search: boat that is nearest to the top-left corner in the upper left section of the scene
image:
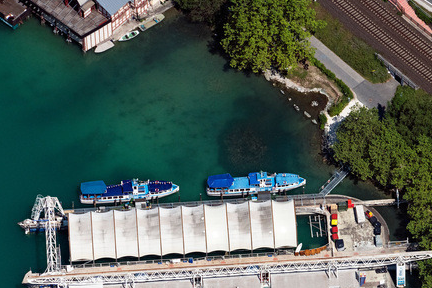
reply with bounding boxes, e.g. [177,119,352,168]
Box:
[95,41,114,53]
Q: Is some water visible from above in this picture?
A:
Yes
